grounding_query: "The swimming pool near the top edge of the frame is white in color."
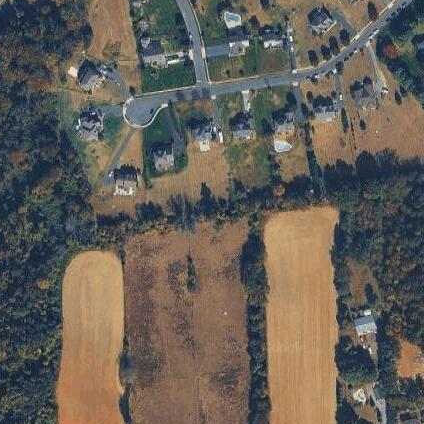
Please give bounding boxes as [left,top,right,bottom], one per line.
[224,11,242,27]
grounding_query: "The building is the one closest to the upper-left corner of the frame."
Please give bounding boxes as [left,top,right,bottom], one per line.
[74,61,106,93]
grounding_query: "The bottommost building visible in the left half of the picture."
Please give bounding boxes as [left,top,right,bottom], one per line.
[113,170,136,192]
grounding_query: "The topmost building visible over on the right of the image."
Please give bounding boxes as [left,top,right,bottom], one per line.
[309,10,334,32]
